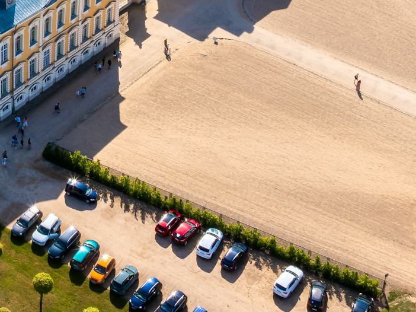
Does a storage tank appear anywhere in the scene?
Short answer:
No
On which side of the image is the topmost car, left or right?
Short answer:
left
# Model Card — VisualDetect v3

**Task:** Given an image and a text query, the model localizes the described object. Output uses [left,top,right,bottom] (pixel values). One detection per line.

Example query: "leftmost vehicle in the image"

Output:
[11,205,43,238]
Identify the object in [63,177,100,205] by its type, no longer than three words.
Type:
car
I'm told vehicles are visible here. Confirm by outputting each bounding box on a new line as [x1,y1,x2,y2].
[194,231,224,262]
[11,205,43,238]
[70,243,100,272]
[171,222,200,249]
[129,279,165,312]
[49,230,81,262]
[270,269,303,303]
[191,300,211,312]
[88,256,119,287]
[32,216,60,249]
[152,211,181,241]
[63,177,100,205]
[110,268,140,299]
[306,284,327,312]
[158,293,190,312]
[220,246,248,275]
